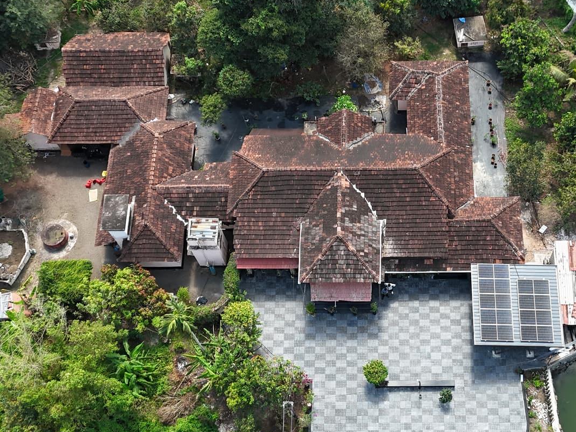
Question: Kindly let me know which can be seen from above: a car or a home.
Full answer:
I can see a home in this picture.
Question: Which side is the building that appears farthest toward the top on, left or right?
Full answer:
The building that appears farthest toward the top sits on the right side.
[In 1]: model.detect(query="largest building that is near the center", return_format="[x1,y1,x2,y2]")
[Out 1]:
[155,58,526,314]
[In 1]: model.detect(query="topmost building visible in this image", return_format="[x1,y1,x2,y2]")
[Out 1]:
[453,15,487,56]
